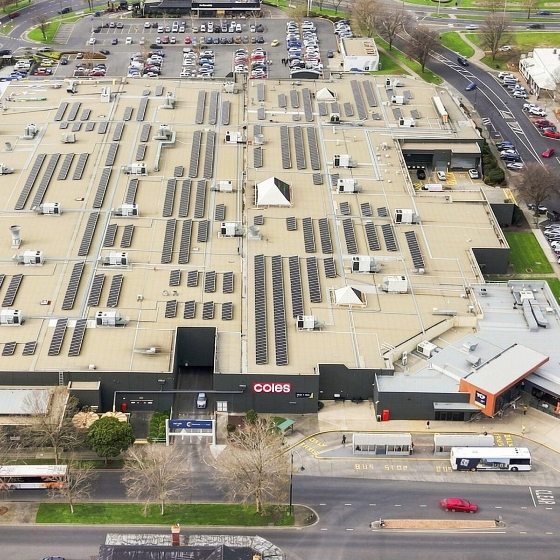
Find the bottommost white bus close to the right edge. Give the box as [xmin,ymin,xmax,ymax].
[449,443,533,471]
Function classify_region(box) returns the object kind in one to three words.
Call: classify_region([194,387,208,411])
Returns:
car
